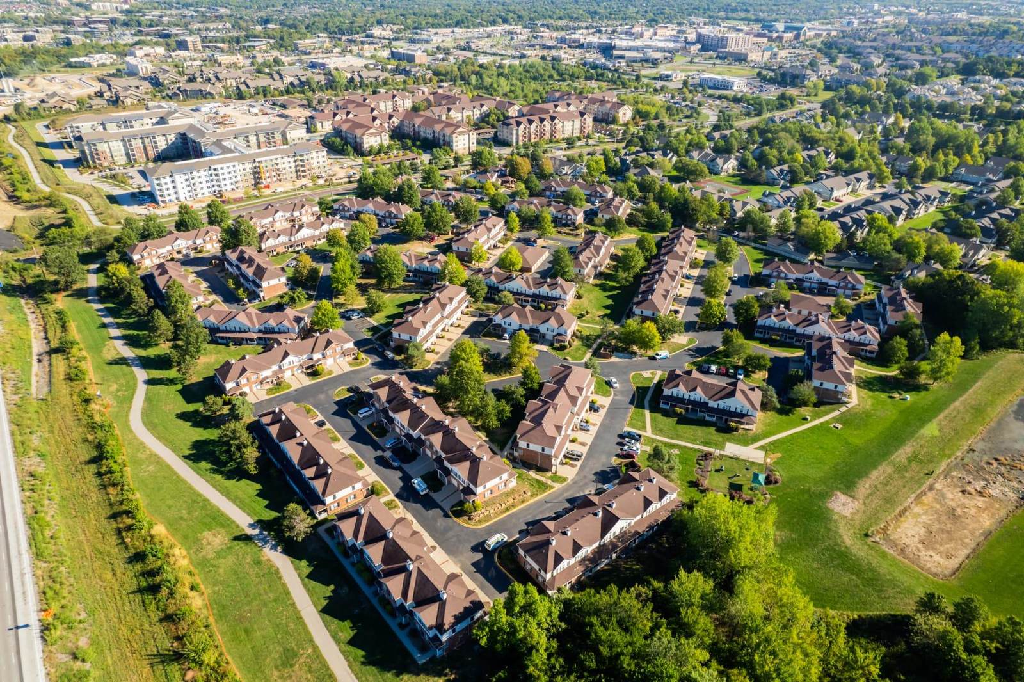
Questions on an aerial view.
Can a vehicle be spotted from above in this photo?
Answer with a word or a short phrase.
Yes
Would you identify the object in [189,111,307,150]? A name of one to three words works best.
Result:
building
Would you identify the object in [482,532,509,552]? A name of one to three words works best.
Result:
vehicle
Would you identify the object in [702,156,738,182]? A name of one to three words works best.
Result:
house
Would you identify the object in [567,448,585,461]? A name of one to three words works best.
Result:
vehicle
